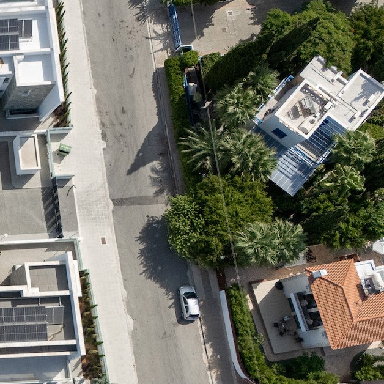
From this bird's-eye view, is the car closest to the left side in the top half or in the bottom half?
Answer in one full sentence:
You can find the car closest to the left side in the bottom half.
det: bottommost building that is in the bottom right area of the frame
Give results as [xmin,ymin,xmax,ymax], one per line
[267,258,384,350]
